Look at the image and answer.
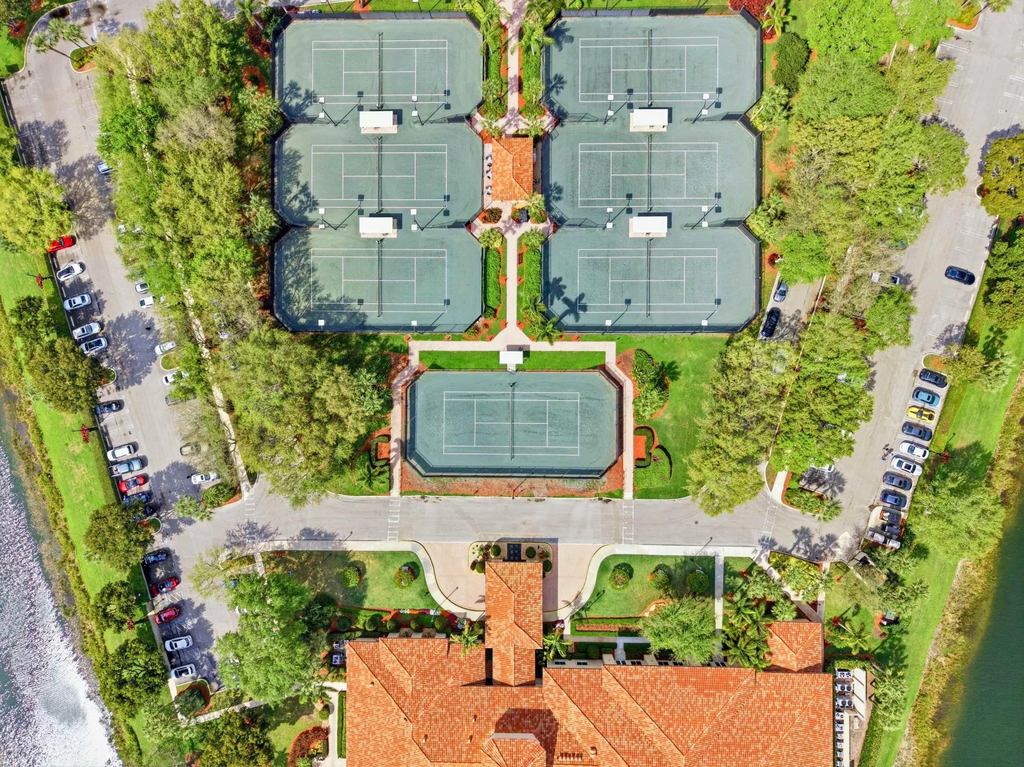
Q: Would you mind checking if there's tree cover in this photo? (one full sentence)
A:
Yes, the picture does contain tree cover.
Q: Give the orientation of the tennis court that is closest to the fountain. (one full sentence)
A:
From this overhead view, the tennis court that is closest to the fountain appears to run from side to side.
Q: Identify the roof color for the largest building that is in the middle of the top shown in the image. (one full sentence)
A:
From above, the roof of the largest building that is in the middle of the top looks orange.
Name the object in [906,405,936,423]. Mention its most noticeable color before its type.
yellow car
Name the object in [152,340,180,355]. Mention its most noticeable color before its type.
white car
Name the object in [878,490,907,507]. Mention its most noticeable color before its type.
blue car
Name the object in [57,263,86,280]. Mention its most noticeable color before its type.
white car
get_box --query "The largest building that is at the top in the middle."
[492,137,533,207]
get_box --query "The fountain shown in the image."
[503,544,526,562]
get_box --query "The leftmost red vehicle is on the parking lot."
[52,235,77,253]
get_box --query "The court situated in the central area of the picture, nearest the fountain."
[406,371,618,478]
